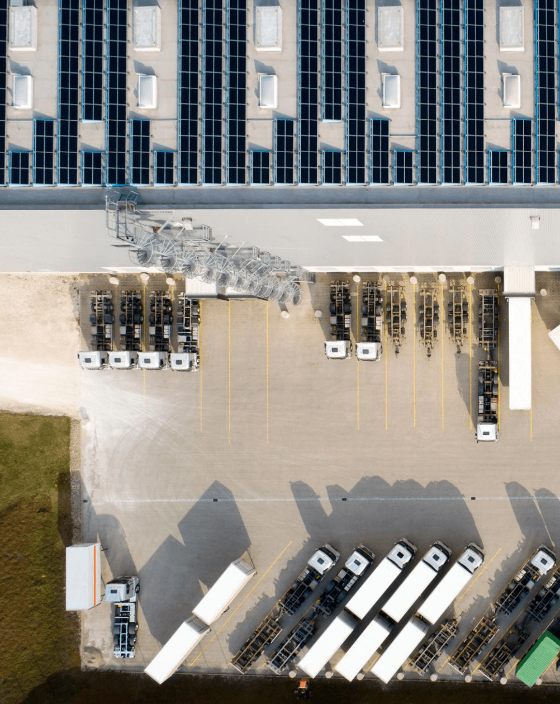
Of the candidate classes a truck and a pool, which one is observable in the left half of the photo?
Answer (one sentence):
Visible in the left half of the photo is a truck.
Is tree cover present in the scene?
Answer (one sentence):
No, there's no tree cover in this view.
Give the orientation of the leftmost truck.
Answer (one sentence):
The leftmost truck is laid out vertically.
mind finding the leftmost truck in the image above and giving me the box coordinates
[80,293,115,374]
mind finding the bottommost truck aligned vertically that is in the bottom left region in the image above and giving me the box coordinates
[106,571,141,653]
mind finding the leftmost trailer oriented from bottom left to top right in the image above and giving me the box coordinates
[230,611,285,675]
